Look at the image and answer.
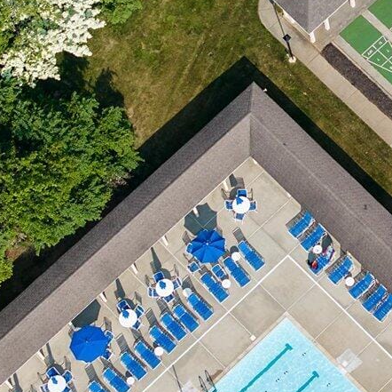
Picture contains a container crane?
No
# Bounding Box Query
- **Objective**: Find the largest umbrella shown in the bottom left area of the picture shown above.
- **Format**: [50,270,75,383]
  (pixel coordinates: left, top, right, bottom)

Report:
[69,324,107,363]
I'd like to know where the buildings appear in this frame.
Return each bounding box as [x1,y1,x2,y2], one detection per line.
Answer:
[0,83,392,390]
[273,0,356,46]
